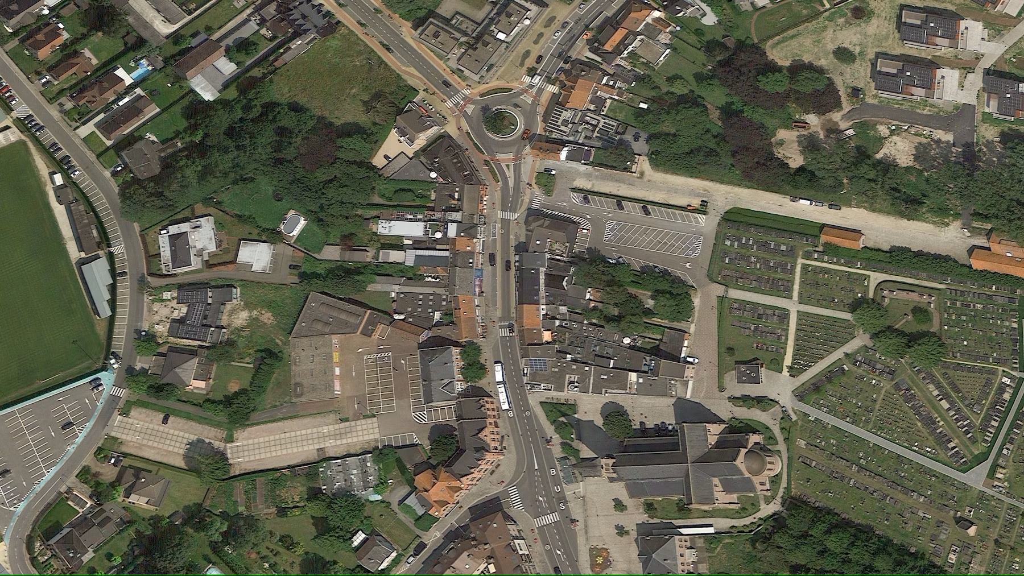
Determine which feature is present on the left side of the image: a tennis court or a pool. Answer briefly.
pool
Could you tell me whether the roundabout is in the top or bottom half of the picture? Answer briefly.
top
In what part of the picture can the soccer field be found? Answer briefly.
left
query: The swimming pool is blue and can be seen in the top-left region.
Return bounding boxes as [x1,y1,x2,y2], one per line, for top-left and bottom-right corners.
[131,65,156,81]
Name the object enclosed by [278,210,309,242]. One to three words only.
swimming pool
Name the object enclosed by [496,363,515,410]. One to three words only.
vehicle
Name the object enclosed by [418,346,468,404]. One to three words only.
building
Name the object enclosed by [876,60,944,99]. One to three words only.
house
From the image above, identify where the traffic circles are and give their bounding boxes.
[462,85,540,156]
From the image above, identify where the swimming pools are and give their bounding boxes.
[131,65,156,81]
[278,210,309,242]
[199,564,226,576]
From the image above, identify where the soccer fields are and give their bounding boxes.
[0,142,101,394]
